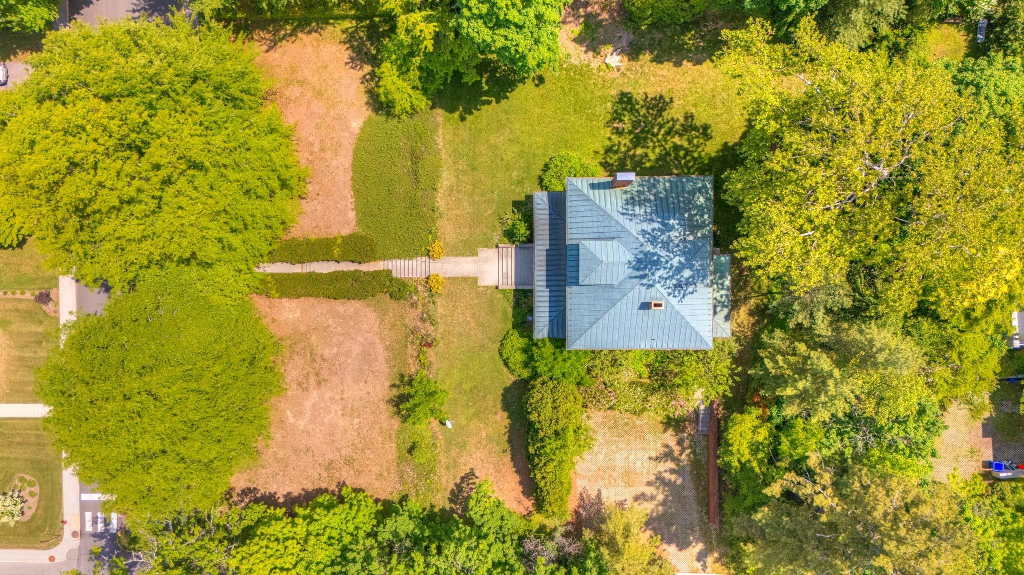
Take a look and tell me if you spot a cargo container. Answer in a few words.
No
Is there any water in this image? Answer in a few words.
No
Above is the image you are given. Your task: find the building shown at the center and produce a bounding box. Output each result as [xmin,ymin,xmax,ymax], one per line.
[499,172,732,352]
